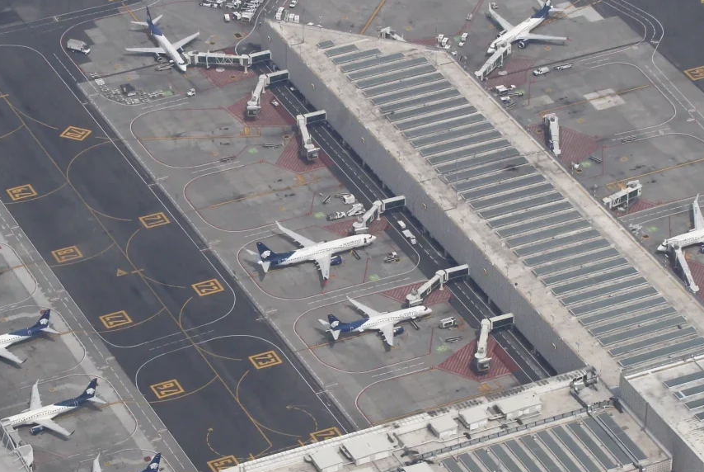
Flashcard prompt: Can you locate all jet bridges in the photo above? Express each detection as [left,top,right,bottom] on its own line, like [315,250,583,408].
[474,310,511,374]
[664,245,704,303]
[183,50,272,80]
[351,192,403,236]
[468,44,509,82]
[597,181,640,211]
[294,107,325,163]
[407,262,467,311]
[245,68,289,121]
[541,117,564,164]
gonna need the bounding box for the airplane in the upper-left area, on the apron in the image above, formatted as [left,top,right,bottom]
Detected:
[123,8,199,72]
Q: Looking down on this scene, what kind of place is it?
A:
airport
